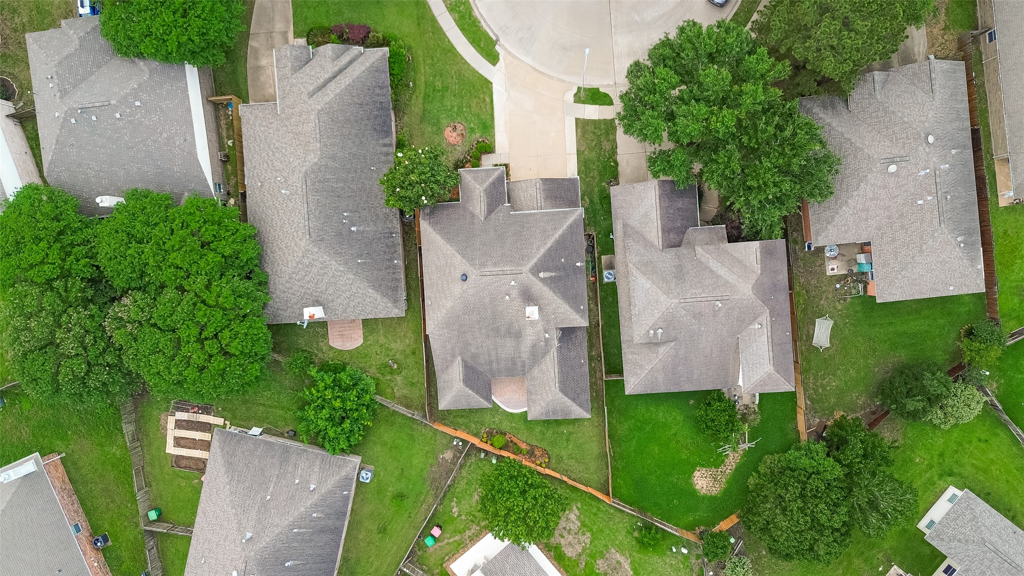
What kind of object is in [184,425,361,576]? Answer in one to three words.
house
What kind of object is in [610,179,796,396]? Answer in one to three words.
house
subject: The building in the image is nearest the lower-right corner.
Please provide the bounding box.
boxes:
[906,484,1024,576]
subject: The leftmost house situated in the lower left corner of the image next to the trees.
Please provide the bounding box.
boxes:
[0,449,116,576]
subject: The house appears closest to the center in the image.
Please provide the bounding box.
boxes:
[419,165,592,421]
